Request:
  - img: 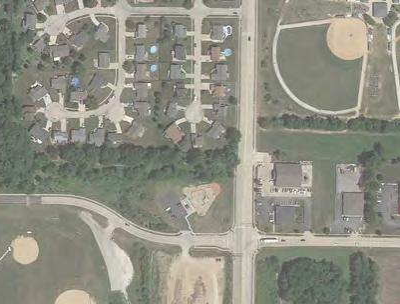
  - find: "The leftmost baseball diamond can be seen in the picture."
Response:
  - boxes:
[7,231,39,264]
